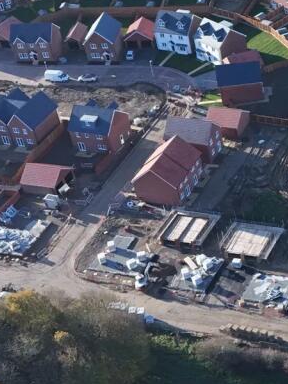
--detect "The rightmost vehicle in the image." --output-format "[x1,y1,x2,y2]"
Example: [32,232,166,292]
[189,103,211,116]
